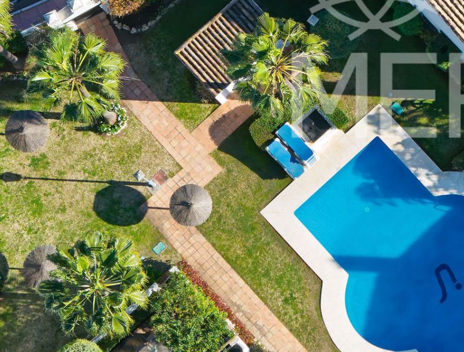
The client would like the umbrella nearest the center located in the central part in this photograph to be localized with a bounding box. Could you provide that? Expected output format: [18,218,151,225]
[168,182,213,228]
